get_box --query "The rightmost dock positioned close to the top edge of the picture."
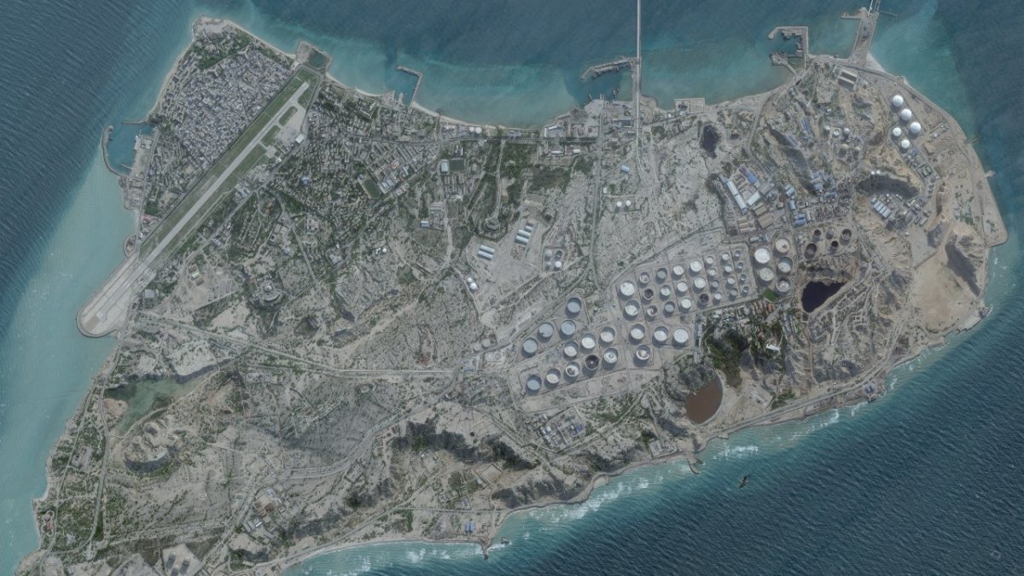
[841,0,896,57]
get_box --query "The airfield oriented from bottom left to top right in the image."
[79,70,323,334]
